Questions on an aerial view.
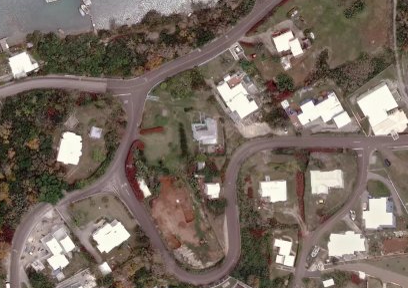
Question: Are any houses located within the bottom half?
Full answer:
Yes, a house shows up within the bottom half.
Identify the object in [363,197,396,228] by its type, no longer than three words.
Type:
house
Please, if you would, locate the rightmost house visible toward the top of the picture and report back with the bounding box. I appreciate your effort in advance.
[357,82,408,136]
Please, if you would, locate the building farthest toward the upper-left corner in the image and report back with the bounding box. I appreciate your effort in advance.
[8,52,38,79]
